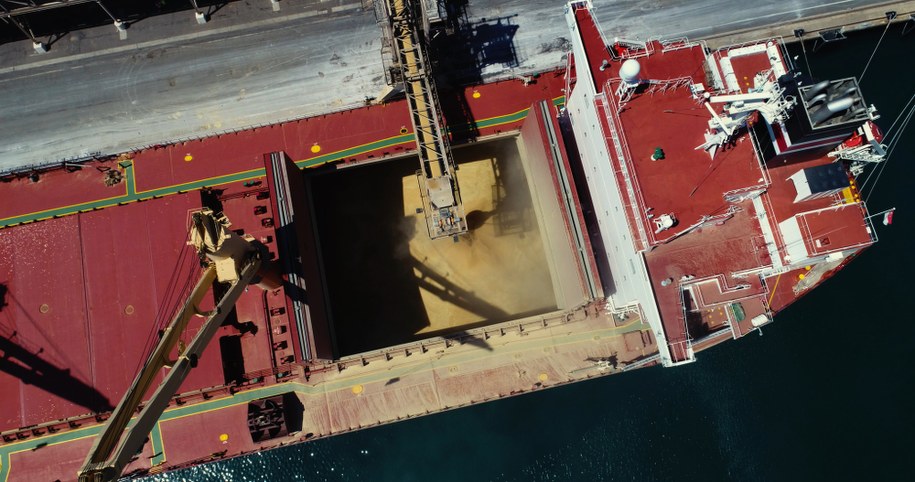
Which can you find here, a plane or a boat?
boat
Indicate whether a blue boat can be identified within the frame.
No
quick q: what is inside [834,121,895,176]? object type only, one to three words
boat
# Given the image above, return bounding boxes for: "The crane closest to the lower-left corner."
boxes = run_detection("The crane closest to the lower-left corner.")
[69,199,283,482]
